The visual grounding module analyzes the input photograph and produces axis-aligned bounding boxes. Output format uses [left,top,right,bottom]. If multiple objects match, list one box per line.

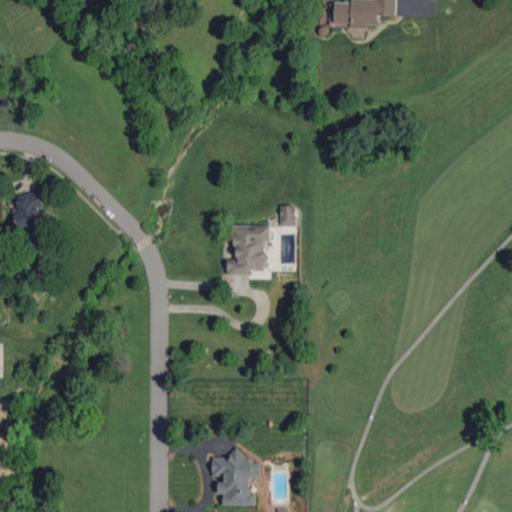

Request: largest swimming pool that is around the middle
[250,226,296,280]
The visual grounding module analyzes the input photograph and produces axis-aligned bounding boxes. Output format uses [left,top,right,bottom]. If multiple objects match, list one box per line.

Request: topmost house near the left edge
[10,192,44,228]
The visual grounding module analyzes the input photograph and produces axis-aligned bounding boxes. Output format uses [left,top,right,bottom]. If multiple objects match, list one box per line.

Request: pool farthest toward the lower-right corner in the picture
[264,461,290,506]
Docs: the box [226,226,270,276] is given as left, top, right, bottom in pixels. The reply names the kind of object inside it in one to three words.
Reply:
house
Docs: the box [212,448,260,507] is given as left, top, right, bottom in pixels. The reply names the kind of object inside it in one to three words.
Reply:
house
